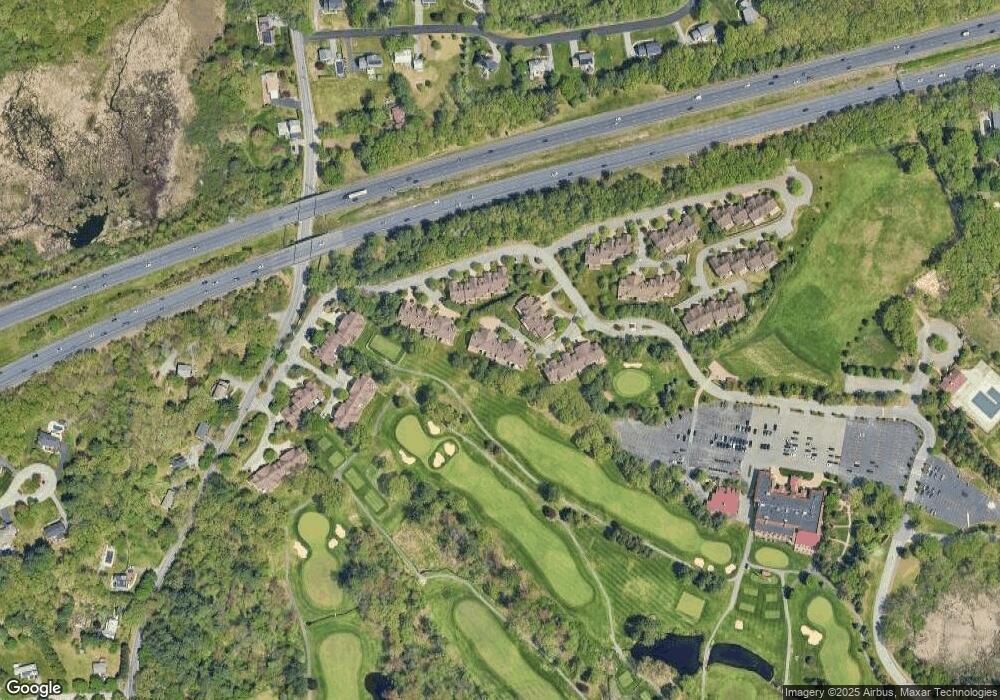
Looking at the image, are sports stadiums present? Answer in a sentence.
No, I can see no sports stadium in this picture.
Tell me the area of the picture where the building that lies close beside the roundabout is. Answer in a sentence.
The building that lies close beside the roundabout sits in the right section of the image.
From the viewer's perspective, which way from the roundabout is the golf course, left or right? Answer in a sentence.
From the viewer's perspective, the golf course falls to the left of the roundabout.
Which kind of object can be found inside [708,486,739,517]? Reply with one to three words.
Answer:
building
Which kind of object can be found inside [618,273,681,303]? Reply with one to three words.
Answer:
house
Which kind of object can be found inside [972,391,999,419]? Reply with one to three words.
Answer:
swimming pool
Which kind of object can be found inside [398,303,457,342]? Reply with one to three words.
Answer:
house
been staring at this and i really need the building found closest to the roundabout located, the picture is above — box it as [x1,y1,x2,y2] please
[938,367,970,397]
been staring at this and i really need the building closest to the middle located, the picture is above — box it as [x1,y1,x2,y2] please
[471,331,527,367]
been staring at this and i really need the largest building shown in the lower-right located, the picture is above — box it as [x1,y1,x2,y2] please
[750,465,826,556]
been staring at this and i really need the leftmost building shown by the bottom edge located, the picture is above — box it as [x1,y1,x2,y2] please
[15,666,38,682]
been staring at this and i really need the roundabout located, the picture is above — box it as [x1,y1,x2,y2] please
[918,319,962,367]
